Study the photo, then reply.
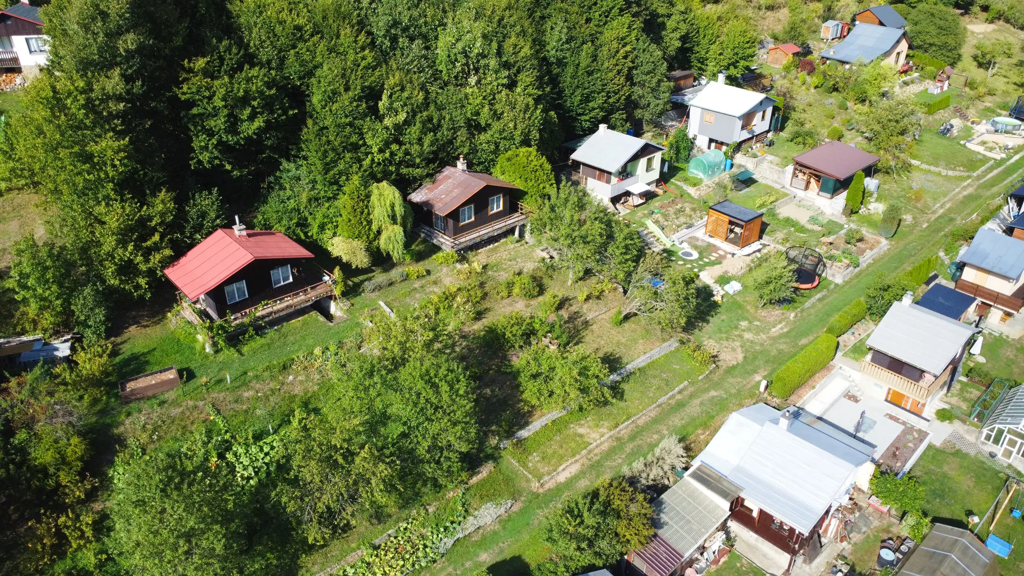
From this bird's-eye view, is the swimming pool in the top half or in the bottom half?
top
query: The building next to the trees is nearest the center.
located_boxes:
[408,155,529,251]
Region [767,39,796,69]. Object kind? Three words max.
shed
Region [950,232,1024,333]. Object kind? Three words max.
house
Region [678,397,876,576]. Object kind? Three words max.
house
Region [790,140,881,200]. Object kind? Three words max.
shed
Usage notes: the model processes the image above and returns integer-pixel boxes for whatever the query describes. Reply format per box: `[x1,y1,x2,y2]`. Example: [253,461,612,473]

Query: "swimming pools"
[988,117,1024,138]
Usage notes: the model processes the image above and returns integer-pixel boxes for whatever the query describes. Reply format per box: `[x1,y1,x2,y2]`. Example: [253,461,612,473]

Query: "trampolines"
[1007,95,1024,119]
[784,244,827,293]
